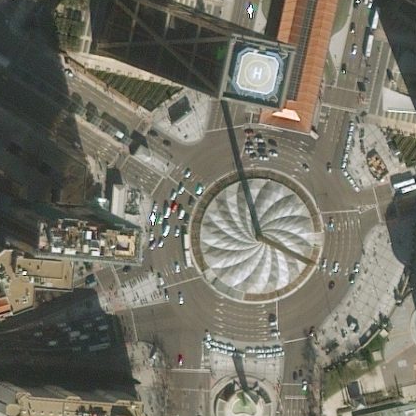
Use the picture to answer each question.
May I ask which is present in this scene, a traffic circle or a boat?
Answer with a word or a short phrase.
traffic circle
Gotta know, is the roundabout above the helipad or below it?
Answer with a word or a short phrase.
below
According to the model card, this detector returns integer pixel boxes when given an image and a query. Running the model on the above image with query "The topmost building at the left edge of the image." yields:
[0,108,85,205]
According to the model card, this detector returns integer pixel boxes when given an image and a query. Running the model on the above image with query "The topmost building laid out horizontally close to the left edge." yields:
[0,201,142,265]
